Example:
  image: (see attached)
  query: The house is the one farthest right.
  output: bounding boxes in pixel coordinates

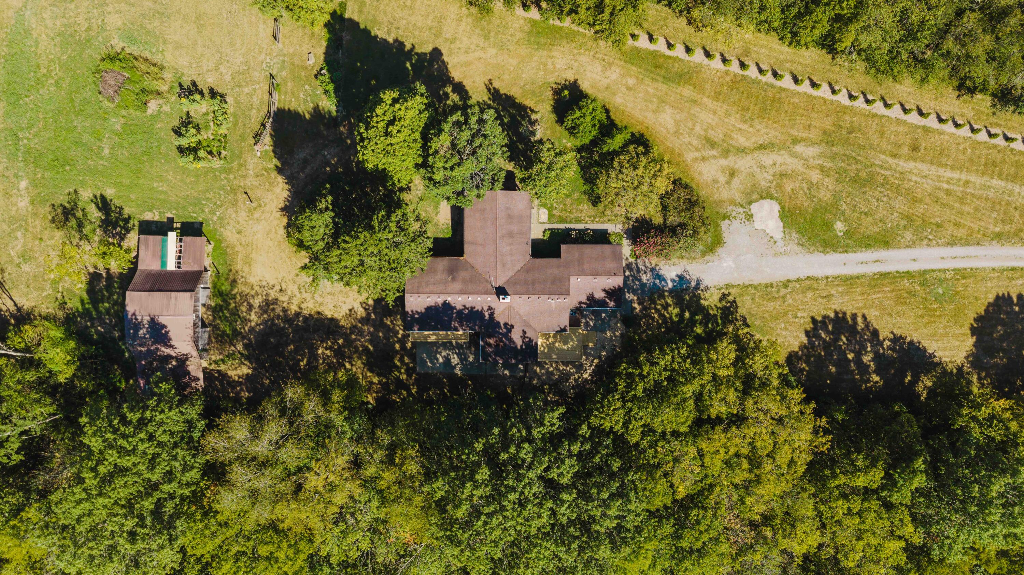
[404,190,623,363]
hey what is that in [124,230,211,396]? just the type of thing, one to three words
barn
